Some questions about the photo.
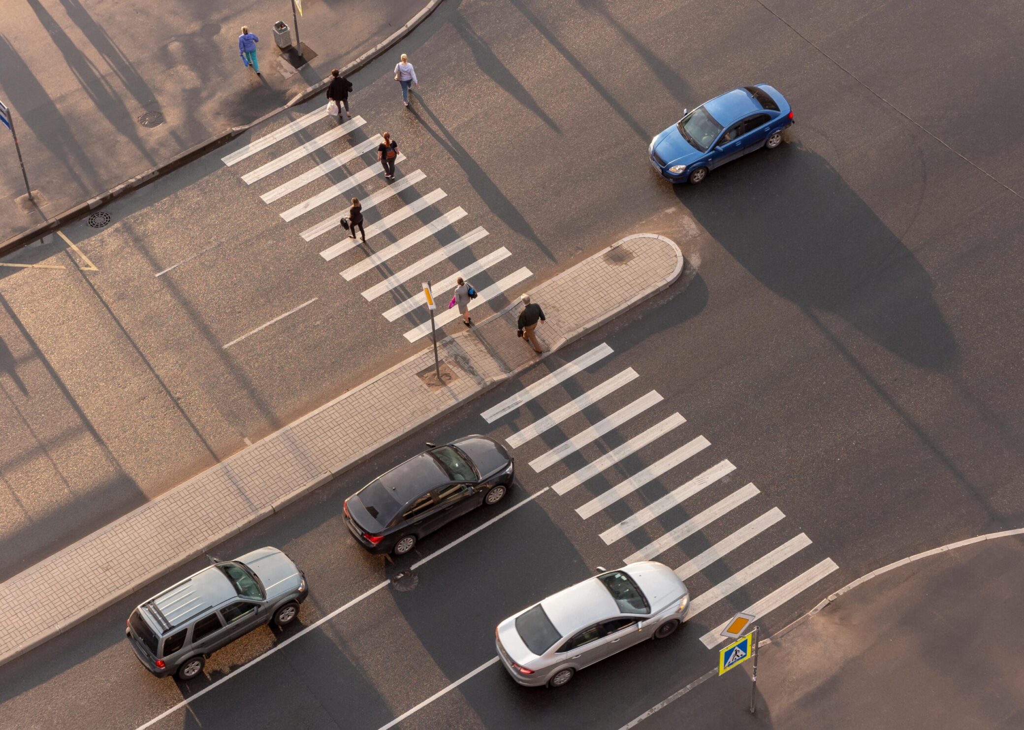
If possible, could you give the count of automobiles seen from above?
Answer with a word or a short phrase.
4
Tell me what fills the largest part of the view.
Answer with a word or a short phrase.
paved ground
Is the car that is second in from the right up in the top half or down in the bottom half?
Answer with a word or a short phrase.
bottom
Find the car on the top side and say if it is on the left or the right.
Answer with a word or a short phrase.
right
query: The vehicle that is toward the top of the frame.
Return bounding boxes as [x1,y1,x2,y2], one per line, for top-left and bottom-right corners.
[647,83,798,185]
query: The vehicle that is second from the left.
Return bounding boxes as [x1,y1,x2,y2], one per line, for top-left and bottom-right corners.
[339,435,517,560]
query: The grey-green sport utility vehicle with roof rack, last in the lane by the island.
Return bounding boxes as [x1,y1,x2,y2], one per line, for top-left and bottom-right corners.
[124,549,309,683]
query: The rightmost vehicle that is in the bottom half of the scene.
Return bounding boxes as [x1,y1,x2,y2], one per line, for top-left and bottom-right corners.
[493,559,695,692]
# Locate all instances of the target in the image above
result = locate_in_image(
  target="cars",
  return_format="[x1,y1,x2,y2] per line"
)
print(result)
[647,83,798,185]
[124,549,309,683]
[493,559,695,692]
[339,435,517,560]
